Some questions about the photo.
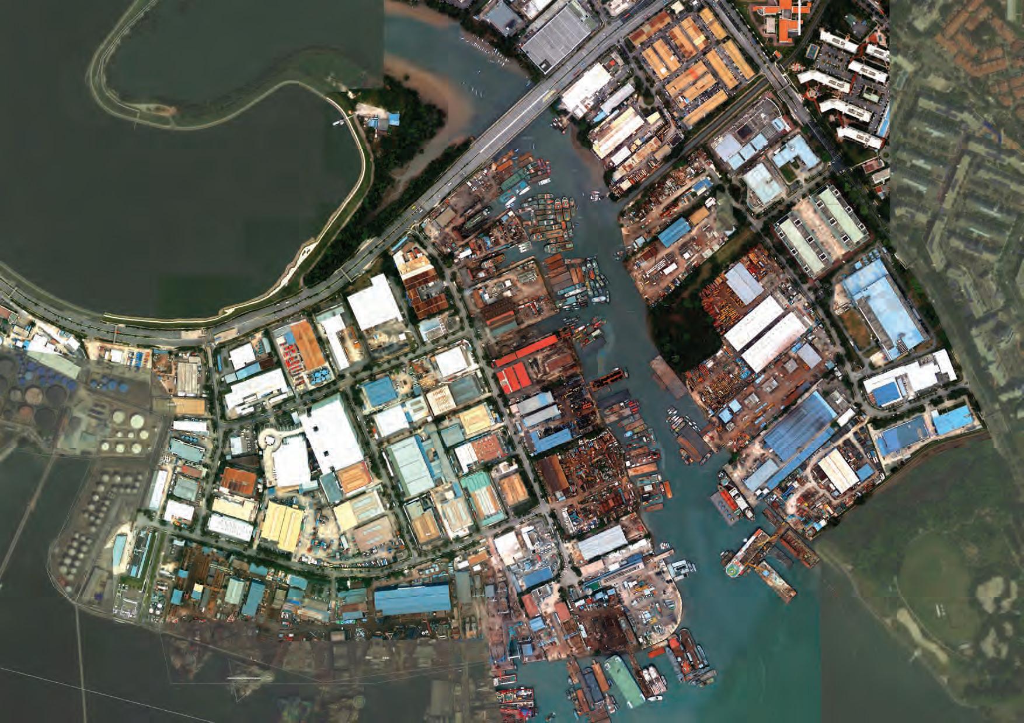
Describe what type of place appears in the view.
port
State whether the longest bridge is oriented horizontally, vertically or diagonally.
diagonally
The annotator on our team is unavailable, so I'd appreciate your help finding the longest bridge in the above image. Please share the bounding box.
[468,76,559,165]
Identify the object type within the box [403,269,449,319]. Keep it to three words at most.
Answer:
building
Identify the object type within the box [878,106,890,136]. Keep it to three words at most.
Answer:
swimming pool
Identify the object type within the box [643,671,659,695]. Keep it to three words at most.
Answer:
ship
